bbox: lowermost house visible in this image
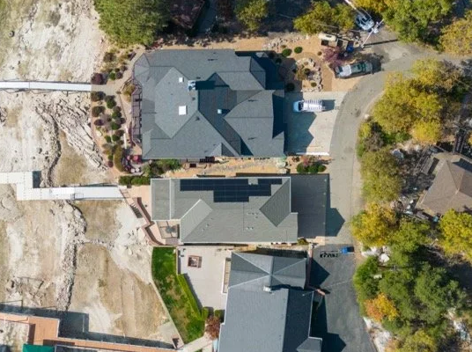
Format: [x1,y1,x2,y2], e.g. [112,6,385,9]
[218,252,322,352]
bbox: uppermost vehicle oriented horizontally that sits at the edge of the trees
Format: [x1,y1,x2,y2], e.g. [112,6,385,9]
[334,59,375,80]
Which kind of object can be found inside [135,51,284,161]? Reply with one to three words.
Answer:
house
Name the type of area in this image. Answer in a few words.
residential area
